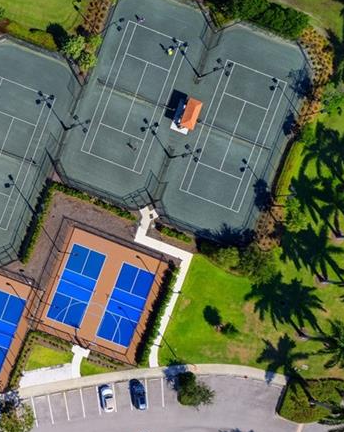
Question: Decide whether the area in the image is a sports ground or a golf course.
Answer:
sports ground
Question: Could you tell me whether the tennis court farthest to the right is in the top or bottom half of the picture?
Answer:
top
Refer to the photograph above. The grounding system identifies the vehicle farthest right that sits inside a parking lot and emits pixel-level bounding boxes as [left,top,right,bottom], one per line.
[132,381,149,411]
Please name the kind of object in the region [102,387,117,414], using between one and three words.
car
